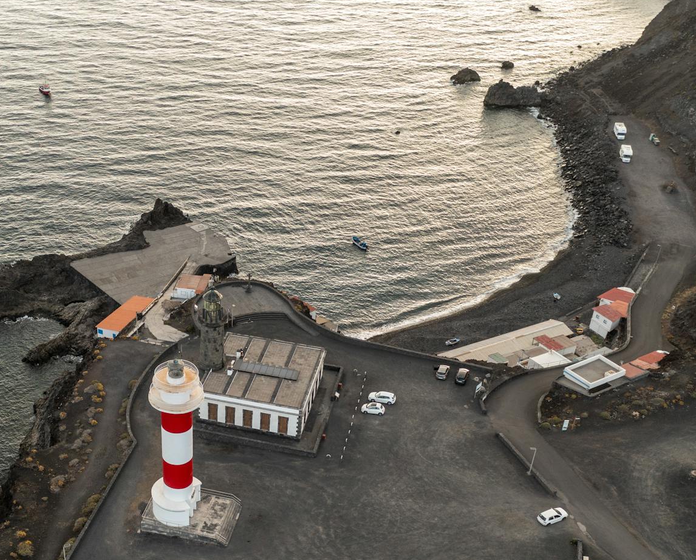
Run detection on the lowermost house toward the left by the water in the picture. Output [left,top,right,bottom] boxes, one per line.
[197,334,325,437]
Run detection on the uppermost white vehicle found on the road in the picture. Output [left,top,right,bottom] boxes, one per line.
[616,120,628,138]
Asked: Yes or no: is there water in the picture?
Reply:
Yes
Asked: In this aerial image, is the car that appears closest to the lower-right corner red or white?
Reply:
white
